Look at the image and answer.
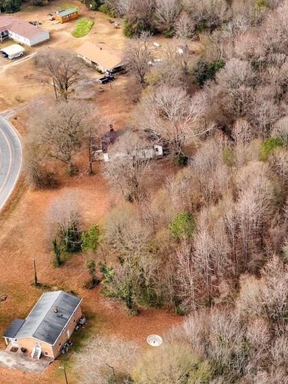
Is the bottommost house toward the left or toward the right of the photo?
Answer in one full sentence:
The bottommost house appears in the left half of the scene.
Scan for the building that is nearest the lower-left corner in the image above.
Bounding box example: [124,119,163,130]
[2,290,82,364]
